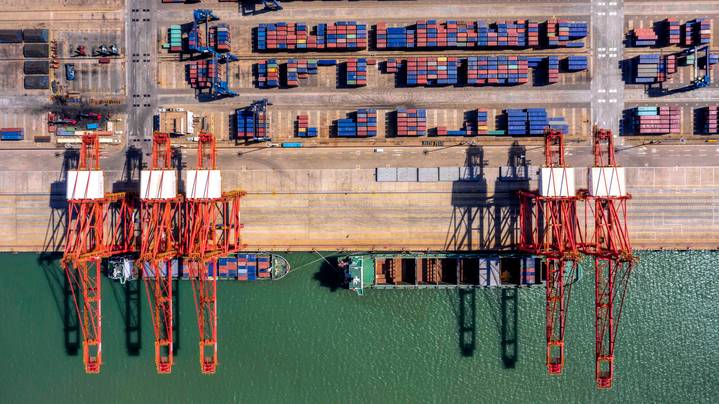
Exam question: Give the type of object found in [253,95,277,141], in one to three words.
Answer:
crane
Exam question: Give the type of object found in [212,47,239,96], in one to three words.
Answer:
crane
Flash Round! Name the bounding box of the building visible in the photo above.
[160,112,197,134]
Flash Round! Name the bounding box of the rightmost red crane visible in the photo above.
[550,129,638,389]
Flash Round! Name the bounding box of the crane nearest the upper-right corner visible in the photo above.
[671,41,711,91]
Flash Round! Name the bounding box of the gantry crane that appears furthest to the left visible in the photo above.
[53,134,149,374]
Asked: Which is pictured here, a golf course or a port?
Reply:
port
